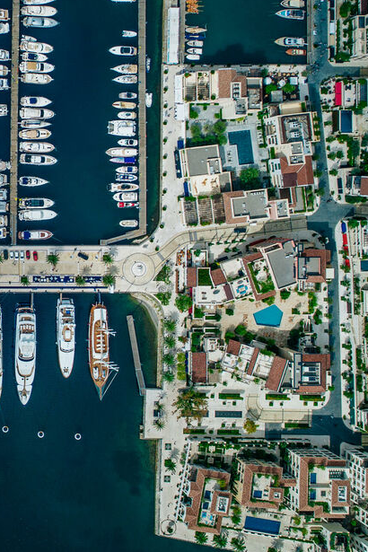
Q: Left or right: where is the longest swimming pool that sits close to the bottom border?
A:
right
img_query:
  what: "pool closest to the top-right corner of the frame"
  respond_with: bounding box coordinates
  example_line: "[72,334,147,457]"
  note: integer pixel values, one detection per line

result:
[340,109,353,134]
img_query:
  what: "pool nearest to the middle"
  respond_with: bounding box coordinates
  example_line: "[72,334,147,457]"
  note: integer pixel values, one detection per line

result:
[252,304,285,328]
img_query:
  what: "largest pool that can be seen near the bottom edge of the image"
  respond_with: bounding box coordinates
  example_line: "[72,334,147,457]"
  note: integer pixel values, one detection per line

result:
[243,514,282,536]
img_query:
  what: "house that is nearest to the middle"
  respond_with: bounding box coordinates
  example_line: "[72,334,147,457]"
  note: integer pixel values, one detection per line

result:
[182,249,253,304]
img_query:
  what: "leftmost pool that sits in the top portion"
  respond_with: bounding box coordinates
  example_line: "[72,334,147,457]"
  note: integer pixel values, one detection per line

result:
[226,128,255,166]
